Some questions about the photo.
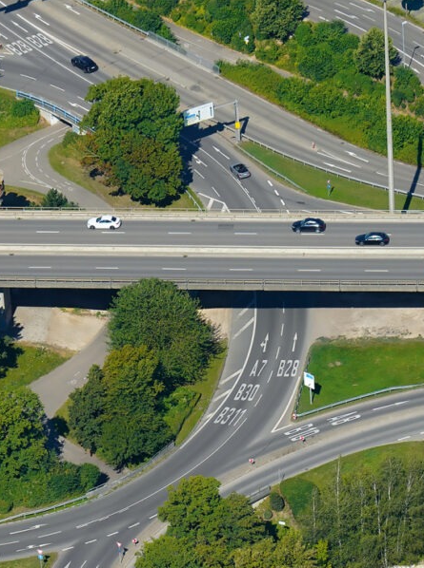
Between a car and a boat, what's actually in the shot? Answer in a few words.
car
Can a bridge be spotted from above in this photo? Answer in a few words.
Yes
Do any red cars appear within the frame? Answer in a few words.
No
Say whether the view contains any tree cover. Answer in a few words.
Yes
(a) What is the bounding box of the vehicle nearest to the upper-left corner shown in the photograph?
[72,55,98,73]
